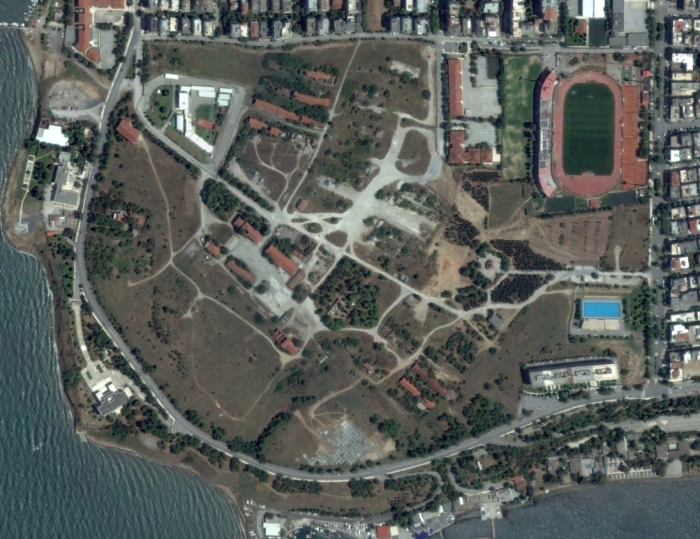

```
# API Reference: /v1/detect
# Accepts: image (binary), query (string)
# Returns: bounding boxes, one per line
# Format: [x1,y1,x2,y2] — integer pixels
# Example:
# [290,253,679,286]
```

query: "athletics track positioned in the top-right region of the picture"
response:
[552,69,623,196]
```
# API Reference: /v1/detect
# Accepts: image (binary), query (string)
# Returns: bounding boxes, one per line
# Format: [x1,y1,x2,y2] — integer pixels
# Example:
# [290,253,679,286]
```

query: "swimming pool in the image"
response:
[582,296,623,319]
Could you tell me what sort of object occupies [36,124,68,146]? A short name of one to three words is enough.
building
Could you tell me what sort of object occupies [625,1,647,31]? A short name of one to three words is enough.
building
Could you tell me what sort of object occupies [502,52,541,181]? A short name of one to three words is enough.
sports field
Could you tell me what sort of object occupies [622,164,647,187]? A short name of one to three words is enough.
tennis court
